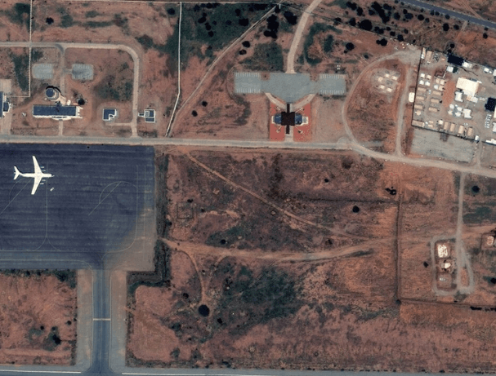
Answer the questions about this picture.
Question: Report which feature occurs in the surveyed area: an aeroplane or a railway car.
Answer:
aeroplane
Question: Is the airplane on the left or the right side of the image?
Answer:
left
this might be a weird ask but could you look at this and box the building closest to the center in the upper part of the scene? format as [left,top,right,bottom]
[271,104,309,134]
